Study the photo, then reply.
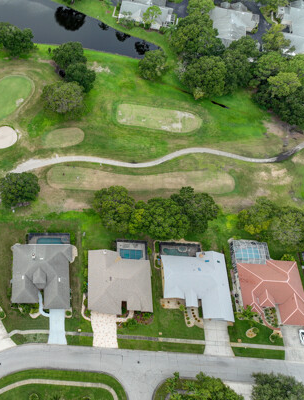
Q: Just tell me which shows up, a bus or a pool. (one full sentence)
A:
I can see a pool in this picture.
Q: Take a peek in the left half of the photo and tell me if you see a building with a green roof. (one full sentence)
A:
No, there's no building with a green roof to be seen in the left half of the photo.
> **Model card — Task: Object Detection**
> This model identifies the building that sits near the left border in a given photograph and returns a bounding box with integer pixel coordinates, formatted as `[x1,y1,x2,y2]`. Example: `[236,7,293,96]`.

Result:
[9,245,72,310]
